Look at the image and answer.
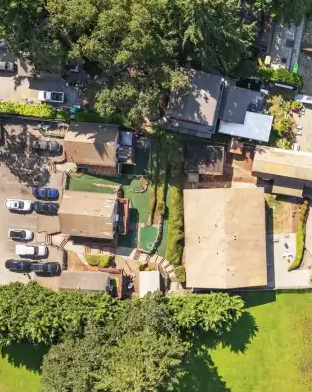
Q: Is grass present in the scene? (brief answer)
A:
Yes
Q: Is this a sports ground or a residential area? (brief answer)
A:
residential area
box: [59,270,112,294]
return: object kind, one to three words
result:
house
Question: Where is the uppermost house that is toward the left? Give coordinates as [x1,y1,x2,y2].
[63,122,121,166]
